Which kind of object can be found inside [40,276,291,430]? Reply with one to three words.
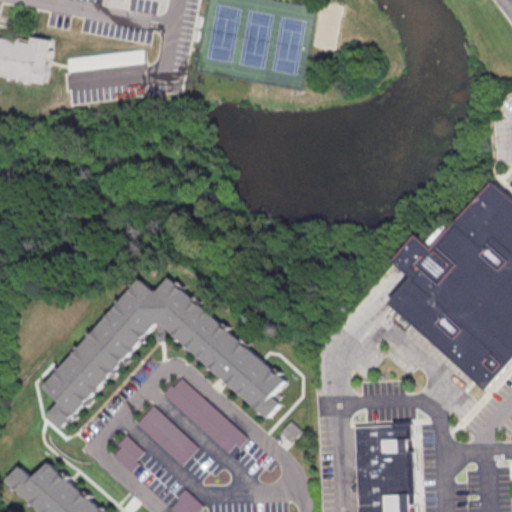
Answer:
building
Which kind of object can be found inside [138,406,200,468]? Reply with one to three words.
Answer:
building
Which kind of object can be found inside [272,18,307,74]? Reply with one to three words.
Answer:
tennis court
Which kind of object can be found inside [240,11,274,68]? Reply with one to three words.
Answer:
tennis court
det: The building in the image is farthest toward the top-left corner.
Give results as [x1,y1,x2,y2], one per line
[0,37,55,84]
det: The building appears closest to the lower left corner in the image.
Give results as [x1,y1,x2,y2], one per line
[2,464,106,512]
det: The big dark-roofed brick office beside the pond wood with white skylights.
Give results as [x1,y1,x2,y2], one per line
[390,182,512,392]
